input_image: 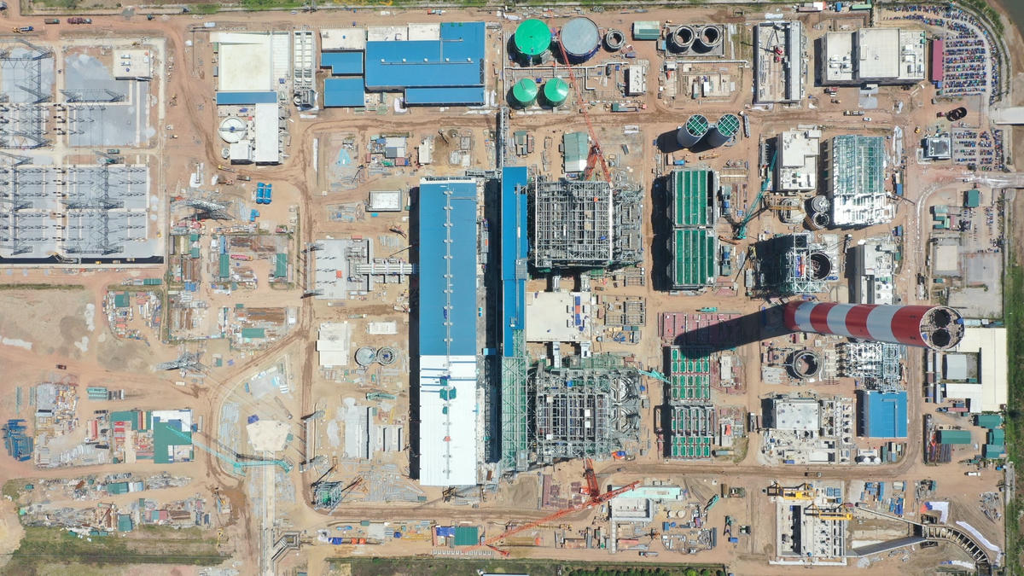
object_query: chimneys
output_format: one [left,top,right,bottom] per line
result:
[783,299,964,350]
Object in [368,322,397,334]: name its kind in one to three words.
shed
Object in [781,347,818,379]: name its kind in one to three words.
storage tank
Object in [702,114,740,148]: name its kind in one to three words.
silo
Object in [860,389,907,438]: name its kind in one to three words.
building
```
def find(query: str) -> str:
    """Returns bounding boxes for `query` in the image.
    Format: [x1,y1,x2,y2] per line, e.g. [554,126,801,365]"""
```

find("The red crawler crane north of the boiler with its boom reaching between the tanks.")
[557,37,613,185]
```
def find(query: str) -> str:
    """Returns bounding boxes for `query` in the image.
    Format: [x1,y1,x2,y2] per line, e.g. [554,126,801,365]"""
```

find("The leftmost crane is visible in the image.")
[165,423,298,476]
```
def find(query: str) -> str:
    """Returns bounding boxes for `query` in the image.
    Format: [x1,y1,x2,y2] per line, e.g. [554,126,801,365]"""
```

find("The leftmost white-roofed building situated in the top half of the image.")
[114,50,156,81]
